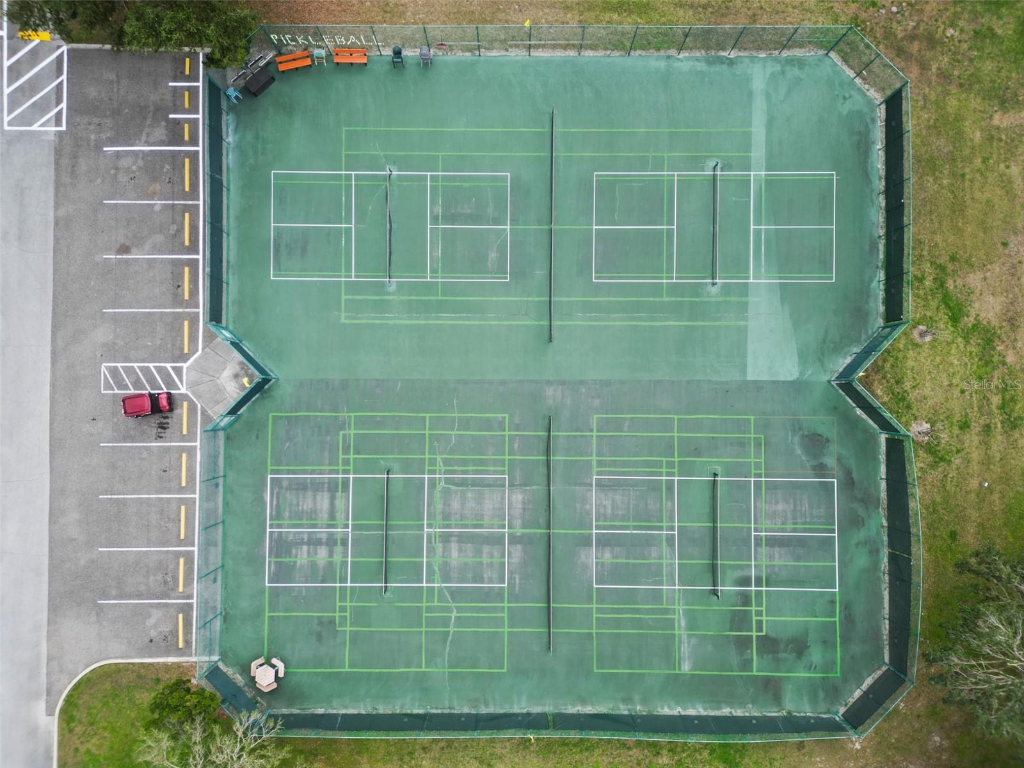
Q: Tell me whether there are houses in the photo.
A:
No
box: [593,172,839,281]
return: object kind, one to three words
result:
sports court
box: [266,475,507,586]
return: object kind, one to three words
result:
sports court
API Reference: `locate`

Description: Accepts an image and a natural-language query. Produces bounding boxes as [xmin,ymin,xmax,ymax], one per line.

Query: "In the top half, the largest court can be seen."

[226,55,878,381]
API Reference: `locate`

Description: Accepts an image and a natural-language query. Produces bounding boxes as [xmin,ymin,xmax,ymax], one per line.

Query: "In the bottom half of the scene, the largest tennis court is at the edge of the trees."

[221,378,884,712]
